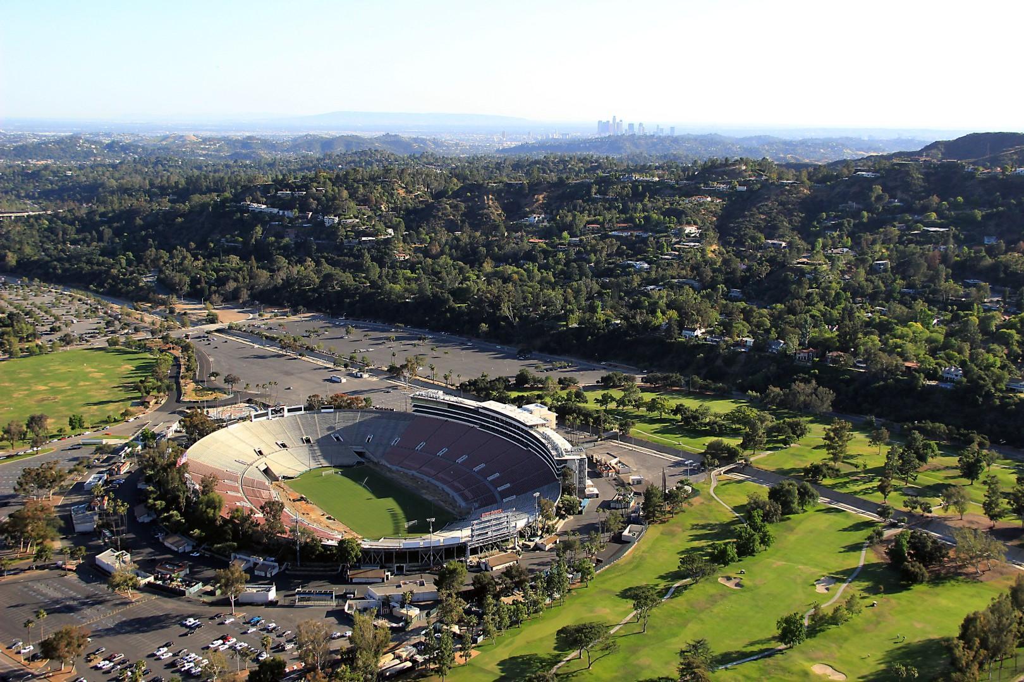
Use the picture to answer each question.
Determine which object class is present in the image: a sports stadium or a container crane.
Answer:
sports stadium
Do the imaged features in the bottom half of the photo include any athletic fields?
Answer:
Yes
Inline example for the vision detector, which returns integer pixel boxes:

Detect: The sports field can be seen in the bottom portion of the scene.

[284,467,452,539]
